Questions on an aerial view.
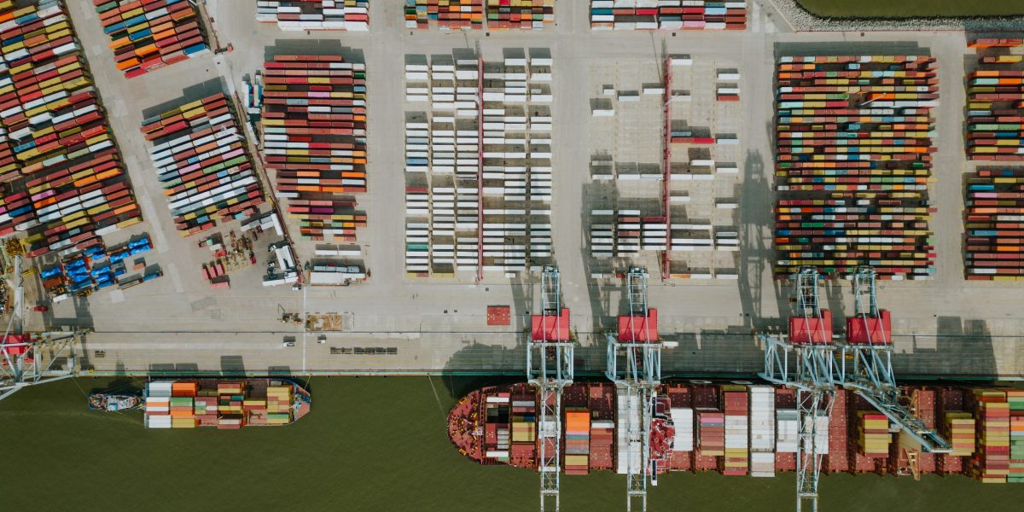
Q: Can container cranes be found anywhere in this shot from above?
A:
Yes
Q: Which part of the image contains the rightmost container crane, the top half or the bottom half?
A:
bottom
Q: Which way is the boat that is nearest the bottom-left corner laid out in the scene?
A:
horizontally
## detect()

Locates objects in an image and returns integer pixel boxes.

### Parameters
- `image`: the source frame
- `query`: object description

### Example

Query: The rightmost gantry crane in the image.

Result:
[823,266,958,449]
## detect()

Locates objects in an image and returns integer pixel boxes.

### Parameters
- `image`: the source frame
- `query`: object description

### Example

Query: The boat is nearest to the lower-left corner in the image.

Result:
[87,391,141,412]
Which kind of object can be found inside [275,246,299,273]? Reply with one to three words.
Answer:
building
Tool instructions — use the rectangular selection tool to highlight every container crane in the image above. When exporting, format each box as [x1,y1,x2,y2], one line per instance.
[823,266,958,449]
[595,267,678,512]
[0,266,95,404]
[750,267,835,512]
[518,266,577,512]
